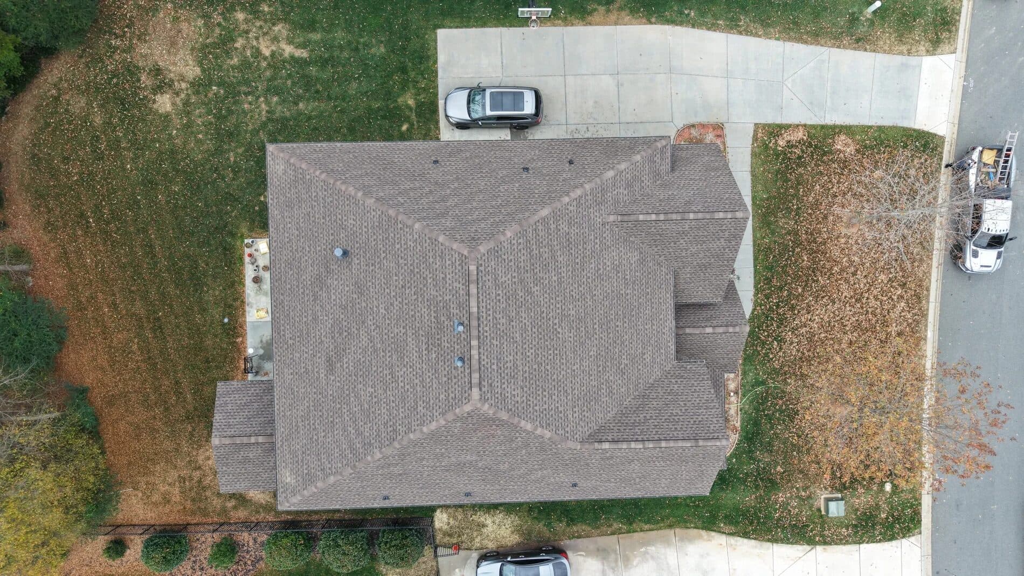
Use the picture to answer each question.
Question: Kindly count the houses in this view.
1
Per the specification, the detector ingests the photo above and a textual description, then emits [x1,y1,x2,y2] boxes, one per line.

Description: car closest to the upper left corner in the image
[445,81,543,130]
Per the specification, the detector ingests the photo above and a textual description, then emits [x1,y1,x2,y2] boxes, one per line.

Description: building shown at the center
[211,134,750,512]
